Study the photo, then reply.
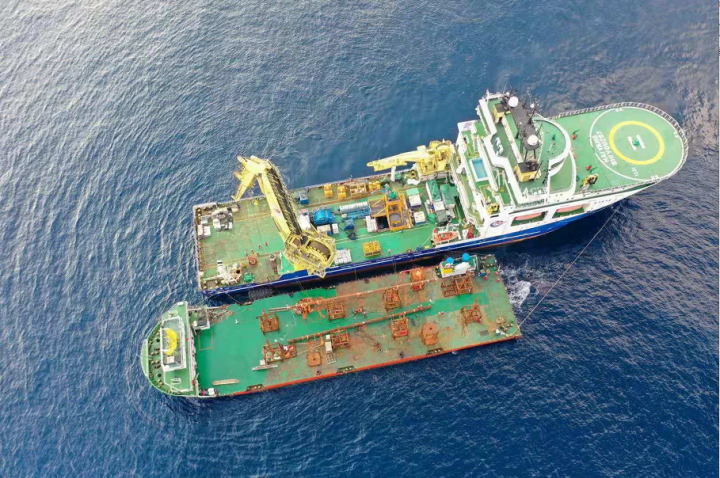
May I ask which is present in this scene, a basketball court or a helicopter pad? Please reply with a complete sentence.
Visible in the photo is a helicopter pad.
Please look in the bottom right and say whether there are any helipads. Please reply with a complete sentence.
No, I see no helipad in the bottom right.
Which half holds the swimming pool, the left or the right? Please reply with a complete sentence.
The swimming pool is on the right side of the image.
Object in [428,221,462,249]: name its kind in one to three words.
boat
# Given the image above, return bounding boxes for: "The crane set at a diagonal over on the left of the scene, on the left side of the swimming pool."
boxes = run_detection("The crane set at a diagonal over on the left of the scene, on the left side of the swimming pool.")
[227,148,334,281]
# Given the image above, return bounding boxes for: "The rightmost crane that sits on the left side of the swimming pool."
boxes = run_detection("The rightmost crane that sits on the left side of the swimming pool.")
[366,148,451,192]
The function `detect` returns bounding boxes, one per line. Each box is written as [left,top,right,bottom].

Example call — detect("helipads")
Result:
[553,101,690,194]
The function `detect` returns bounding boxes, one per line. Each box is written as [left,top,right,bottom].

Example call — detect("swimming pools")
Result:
[468,154,489,183]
